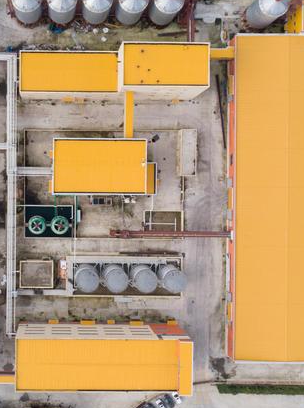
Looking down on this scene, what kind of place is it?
industrial area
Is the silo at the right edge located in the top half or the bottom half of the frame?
top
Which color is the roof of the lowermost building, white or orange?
orange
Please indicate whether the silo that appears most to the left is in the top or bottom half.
top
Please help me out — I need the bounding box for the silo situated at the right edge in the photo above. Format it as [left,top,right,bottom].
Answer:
[246,0,291,31]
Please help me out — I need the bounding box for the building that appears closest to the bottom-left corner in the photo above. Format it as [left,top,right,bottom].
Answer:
[16,318,194,396]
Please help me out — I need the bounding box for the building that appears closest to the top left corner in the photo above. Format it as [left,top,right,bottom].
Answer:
[19,51,121,101]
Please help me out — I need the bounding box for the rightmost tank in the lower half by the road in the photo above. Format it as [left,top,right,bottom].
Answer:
[154,264,186,292]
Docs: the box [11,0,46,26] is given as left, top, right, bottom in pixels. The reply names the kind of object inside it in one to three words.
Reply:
silo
